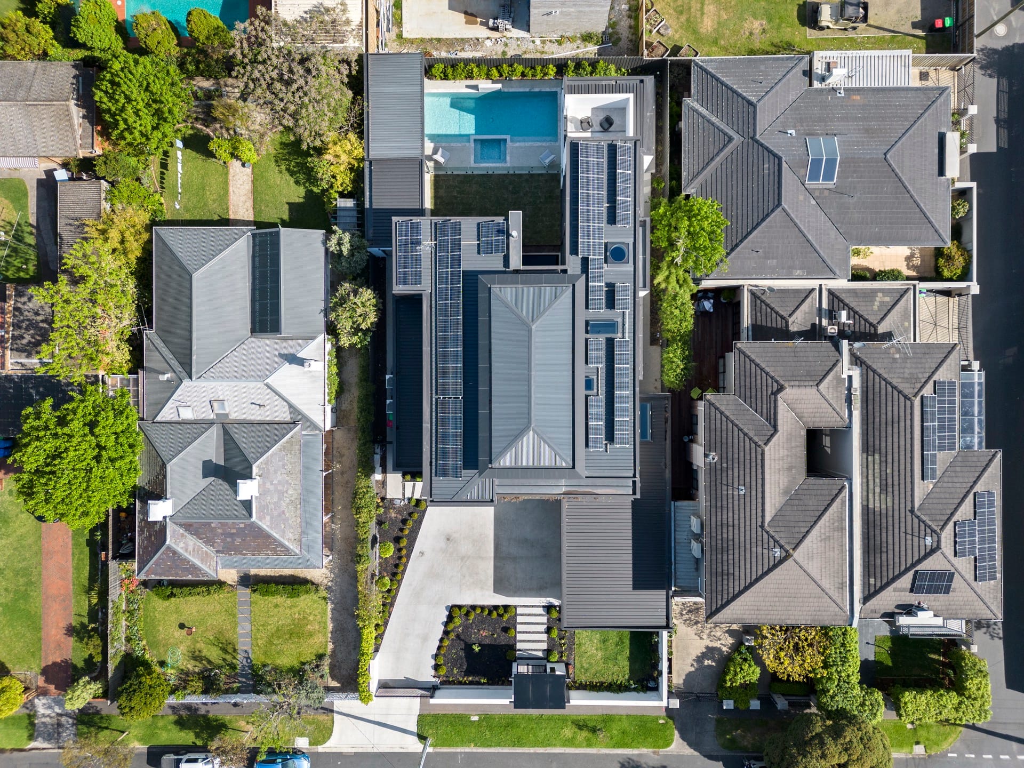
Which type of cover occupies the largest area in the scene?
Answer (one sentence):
For the most part, this view shows buildings.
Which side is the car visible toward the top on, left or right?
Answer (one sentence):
The car visible toward the top sits on the right side.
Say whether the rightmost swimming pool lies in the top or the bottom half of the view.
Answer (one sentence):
It is in the top half that the rightmost swimming pool appears.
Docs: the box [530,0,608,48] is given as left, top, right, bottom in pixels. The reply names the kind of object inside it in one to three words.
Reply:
shed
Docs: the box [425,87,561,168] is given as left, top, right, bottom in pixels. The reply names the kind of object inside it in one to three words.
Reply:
swimming pool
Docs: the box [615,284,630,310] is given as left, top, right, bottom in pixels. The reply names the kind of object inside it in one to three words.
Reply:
solar panel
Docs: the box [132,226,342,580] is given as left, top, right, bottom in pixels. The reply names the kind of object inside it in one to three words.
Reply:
house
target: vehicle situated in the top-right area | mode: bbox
[813,0,866,33]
